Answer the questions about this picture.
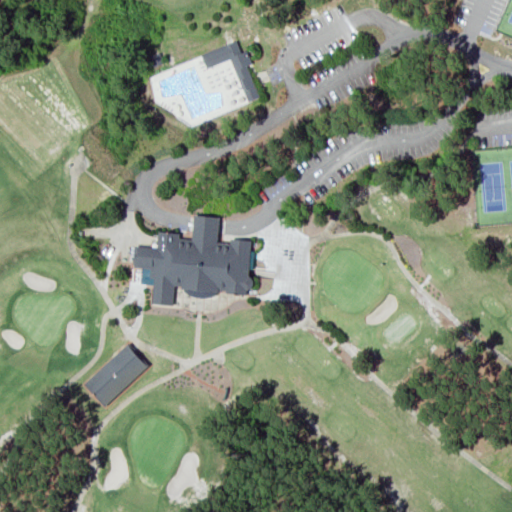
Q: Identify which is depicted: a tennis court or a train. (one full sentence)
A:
The image shows a tennis court.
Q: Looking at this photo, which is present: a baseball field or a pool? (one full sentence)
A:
It is a pool that can be seen here.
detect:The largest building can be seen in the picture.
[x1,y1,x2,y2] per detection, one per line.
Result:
[134,216,257,306]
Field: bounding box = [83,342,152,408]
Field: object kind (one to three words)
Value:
barn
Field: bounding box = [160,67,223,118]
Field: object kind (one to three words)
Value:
swimming pool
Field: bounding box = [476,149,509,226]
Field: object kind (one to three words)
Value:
tennis court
